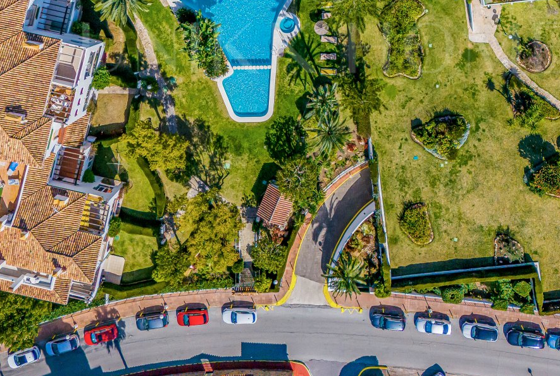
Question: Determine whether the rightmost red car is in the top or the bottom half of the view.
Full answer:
You can find the rightmost red car in the bottom half.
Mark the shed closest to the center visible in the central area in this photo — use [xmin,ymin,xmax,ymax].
[256,183,294,228]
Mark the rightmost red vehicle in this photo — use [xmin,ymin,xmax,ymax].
[176,308,209,329]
